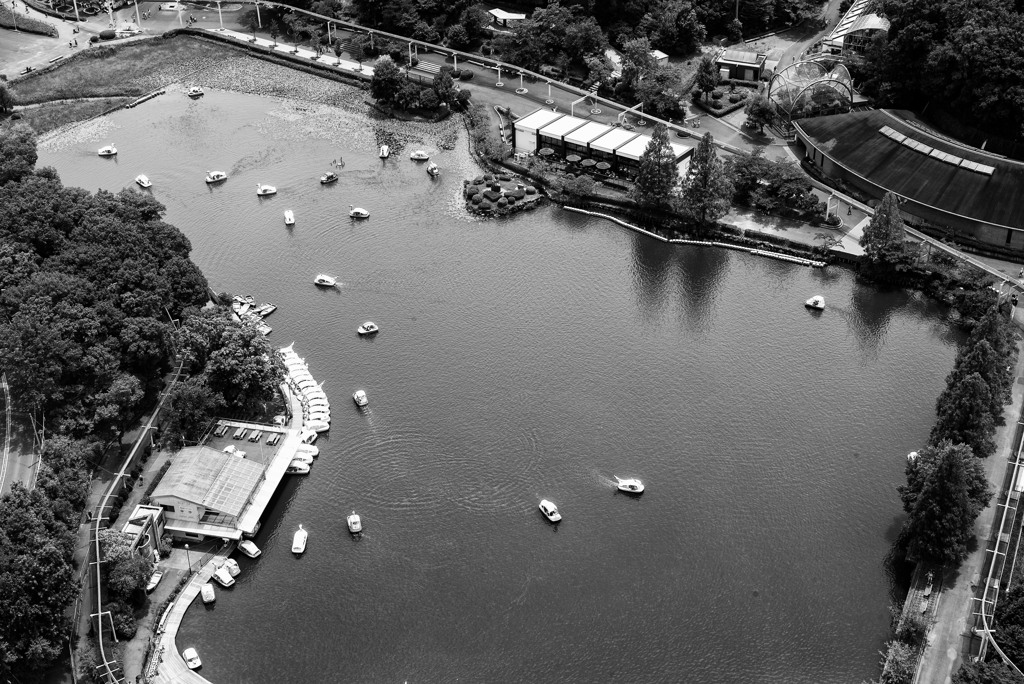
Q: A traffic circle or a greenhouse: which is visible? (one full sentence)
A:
There is a greenhouse in the scene.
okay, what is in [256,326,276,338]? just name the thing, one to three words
boat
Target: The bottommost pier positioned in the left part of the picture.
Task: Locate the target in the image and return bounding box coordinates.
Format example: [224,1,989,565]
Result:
[151,546,247,684]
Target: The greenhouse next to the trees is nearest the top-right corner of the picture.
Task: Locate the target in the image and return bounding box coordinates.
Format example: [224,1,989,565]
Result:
[845,15,902,65]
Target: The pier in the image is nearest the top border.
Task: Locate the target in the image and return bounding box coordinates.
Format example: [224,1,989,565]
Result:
[280,378,302,434]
